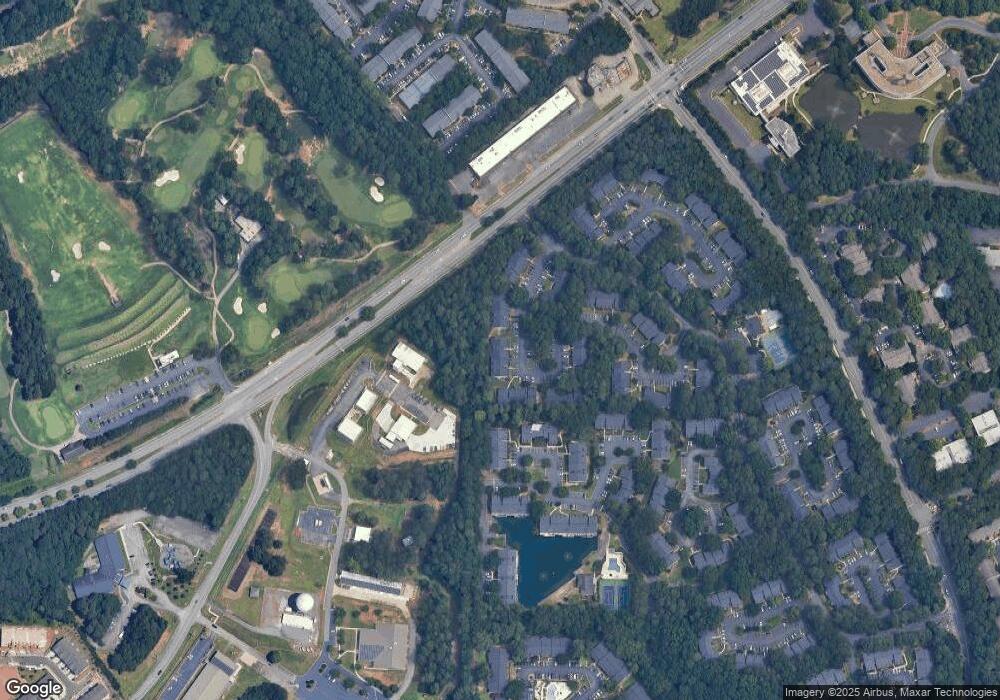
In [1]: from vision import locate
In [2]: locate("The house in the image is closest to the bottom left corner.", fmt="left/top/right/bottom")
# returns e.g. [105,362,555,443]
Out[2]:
[18,671,61,700]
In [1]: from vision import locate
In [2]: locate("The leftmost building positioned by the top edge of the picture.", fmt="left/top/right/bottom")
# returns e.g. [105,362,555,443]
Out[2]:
[305,0,354,44]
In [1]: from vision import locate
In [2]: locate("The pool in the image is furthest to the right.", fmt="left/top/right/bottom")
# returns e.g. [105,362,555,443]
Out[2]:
[935,283,951,298]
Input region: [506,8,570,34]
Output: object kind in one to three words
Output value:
building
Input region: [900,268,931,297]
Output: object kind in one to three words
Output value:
house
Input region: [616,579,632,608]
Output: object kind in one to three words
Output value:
tennis court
